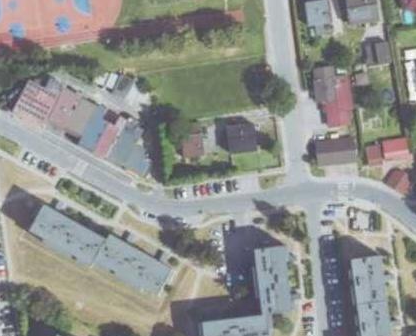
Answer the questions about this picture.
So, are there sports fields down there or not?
Yes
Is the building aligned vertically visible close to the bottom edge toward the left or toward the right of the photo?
right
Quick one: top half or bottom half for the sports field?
top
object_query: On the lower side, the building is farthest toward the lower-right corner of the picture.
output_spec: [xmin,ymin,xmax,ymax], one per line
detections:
[348,254,392,336]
